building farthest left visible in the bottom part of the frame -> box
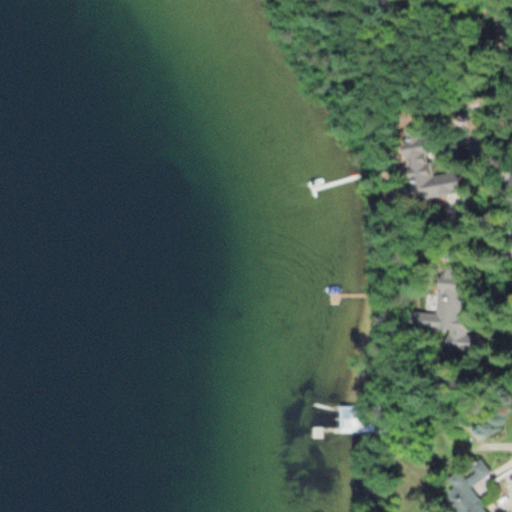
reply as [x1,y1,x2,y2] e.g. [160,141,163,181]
[340,406,366,434]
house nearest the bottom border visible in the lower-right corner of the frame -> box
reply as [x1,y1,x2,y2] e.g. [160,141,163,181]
[448,461,492,512]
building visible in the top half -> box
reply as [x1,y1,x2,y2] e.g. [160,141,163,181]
[402,138,461,198]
